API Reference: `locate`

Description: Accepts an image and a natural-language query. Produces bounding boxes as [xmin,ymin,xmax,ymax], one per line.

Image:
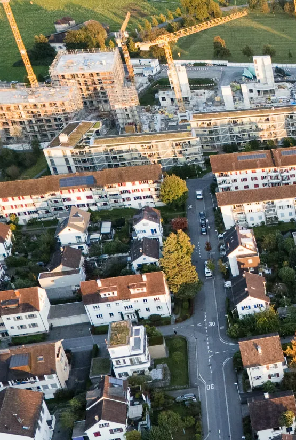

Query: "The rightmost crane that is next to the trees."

[134,9,248,116]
